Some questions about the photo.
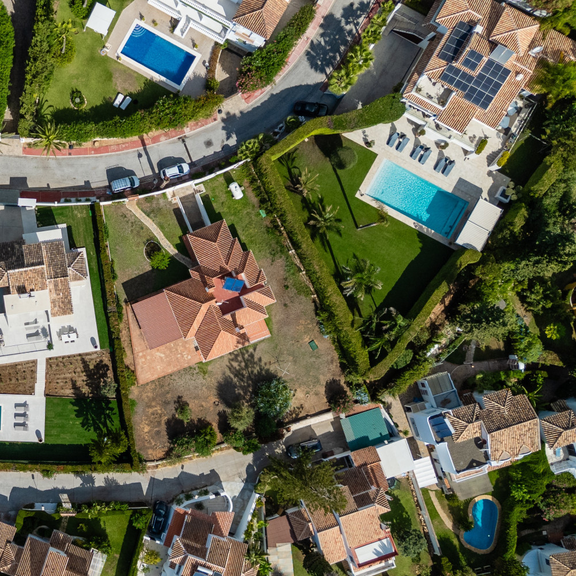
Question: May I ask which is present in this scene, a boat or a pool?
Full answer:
There is a pool in the scene.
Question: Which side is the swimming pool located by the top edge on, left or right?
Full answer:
The swimming pool located by the top edge appears in the left half of the scene.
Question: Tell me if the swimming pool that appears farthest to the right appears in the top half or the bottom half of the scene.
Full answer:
The bottom half of the photo is where the swimming pool that appears farthest to the right is.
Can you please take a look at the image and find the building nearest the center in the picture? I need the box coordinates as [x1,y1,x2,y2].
[132,219,277,361]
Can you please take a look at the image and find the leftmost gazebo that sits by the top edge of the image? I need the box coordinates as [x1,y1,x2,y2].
[84,2,117,40]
